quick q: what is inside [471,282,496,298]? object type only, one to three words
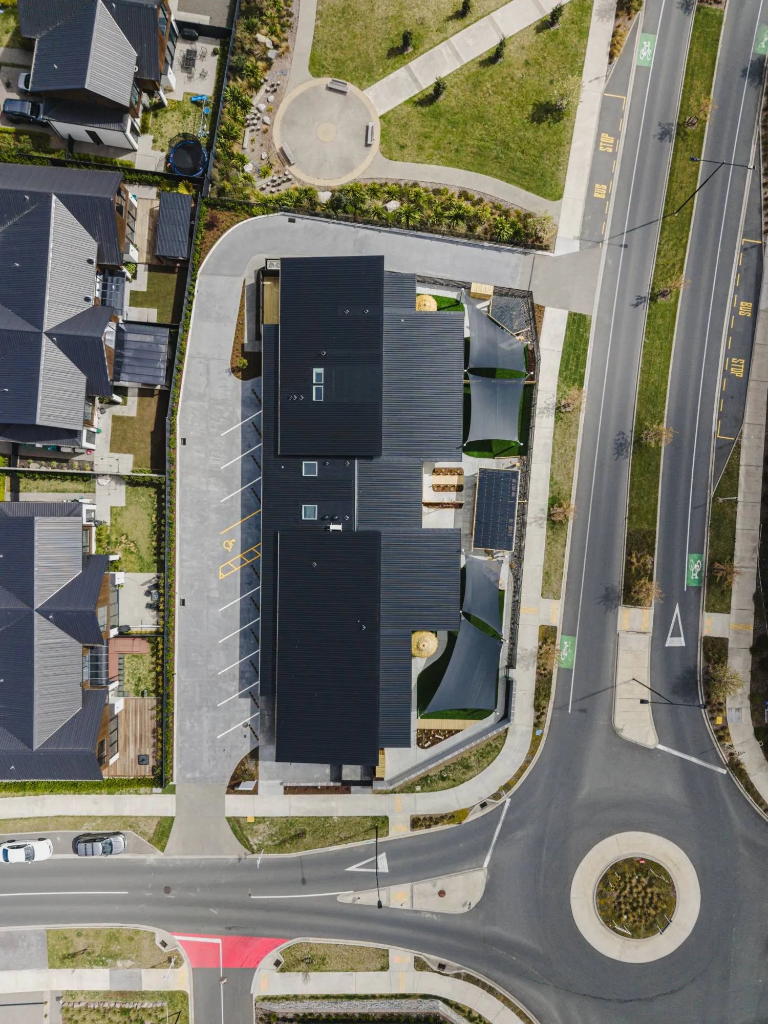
shed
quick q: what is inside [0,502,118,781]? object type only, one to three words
house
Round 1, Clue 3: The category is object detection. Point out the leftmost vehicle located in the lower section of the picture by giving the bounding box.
[0,835,52,865]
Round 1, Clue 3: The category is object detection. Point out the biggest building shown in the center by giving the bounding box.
[258,254,465,787]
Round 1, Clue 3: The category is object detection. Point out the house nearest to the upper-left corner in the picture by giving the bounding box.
[15,0,179,151]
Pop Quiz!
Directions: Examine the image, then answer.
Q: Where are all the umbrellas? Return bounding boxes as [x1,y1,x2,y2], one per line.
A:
[411,634,438,656]
[416,295,435,306]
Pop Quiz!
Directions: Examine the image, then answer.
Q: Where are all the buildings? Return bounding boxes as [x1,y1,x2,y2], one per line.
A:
[471,282,496,298]
[15,0,179,151]
[0,163,136,447]
[0,502,118,781]
[258,254,465,787]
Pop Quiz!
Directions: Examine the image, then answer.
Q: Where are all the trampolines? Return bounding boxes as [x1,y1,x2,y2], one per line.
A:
[165,127,208,174]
